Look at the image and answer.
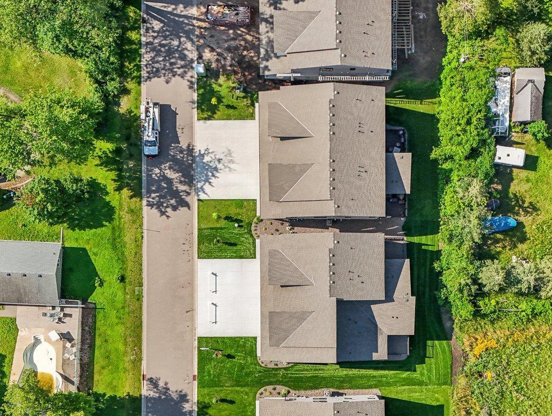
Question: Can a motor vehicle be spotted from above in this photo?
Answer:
Yes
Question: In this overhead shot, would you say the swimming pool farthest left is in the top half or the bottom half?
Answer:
bottom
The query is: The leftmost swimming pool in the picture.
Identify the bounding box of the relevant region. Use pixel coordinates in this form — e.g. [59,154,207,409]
[17,333,61,404]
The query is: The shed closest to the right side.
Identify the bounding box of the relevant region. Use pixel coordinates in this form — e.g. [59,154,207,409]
[506,68,544,124]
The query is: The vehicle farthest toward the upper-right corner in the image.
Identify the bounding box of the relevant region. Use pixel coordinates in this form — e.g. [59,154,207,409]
[493,147,524,168]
